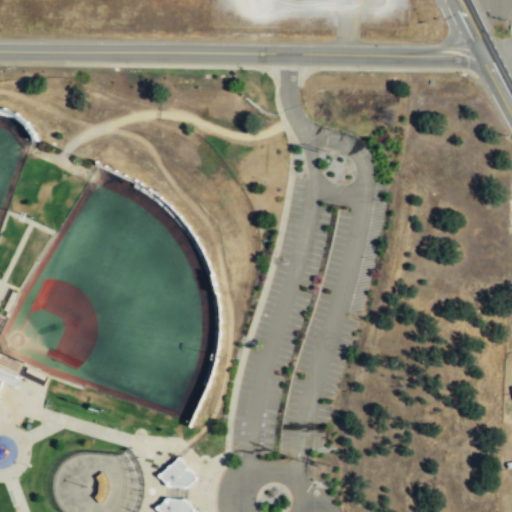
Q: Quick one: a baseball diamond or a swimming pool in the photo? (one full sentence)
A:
Of the two, only a baseball diamond appears.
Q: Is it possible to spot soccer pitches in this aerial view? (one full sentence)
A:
No, the photo shows no soccer pitch.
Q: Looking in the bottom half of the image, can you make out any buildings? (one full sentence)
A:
Yes, in the bottom half of the image there is a building.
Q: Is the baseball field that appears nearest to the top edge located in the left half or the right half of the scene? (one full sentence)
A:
You can find the baseball field that appears nearest to the top edge on the left side of the picture.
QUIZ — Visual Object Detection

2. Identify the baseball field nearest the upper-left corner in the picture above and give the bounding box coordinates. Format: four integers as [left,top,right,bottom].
[0,112,38,226]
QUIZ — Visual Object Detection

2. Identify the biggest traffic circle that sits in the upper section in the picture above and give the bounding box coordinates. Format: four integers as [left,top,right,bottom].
[322,148,358,186]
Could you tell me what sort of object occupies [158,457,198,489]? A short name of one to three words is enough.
building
